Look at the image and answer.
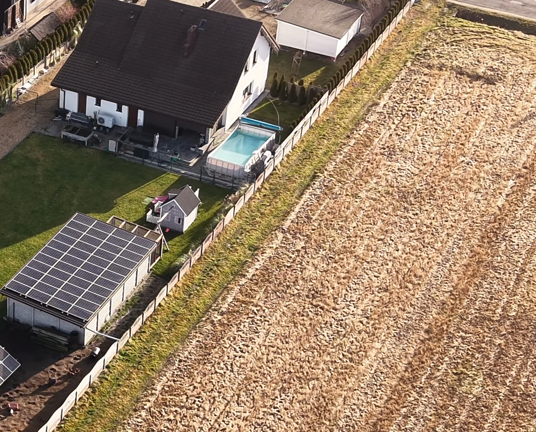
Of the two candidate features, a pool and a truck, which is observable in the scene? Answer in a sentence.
The one in the frame is a pool.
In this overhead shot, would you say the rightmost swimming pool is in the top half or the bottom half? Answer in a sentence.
Seen from above, the rightmost swimming pool lies in the top half of the view.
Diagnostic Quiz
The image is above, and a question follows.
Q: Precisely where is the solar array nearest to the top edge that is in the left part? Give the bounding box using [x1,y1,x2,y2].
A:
[5,213,156,320]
